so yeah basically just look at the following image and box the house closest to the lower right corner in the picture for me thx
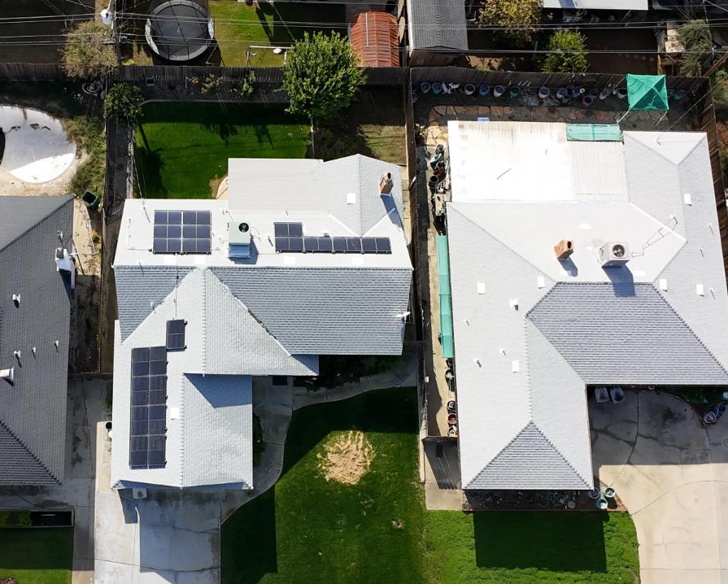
[438,120,728,491]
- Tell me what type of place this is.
residential area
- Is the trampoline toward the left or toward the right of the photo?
left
